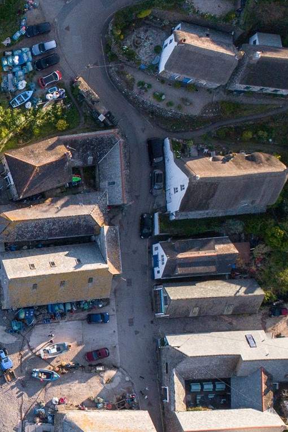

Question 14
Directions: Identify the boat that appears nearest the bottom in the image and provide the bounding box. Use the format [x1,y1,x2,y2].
[30,368,61,382]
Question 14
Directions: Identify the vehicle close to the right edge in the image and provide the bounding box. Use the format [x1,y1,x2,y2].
[267,305,288,318]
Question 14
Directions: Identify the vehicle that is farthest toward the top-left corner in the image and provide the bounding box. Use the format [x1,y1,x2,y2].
[24,20,51,40]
